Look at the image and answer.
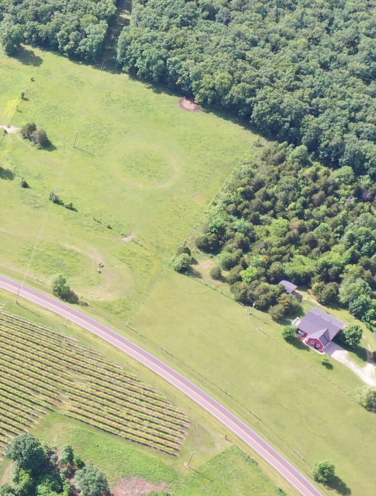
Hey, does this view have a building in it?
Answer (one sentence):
Yes, a building can be made out from above.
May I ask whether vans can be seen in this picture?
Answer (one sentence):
No, this view has no van in it.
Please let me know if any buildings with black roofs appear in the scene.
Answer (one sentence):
No, no building with a black roof can be seen from above.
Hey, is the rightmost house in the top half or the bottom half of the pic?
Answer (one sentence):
You can find the rightmost house in the bottom half.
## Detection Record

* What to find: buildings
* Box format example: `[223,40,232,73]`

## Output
[278,280,305,297]
[293,308,347,351]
